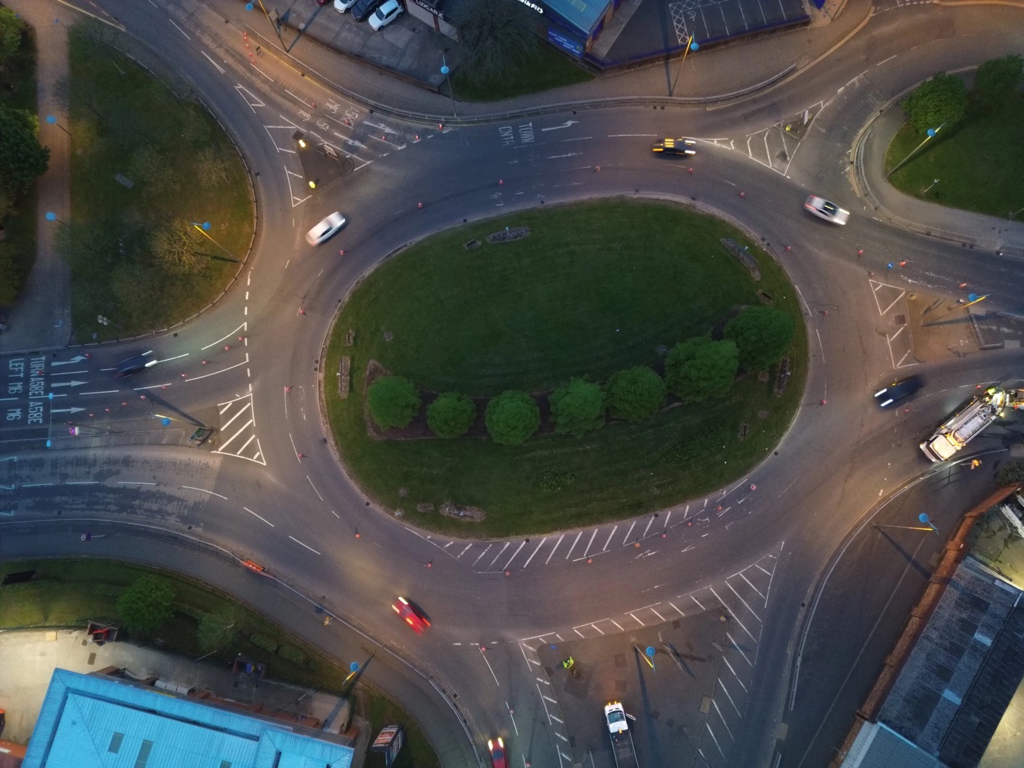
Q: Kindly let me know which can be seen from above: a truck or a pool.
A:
truck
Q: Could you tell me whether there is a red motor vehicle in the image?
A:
Yes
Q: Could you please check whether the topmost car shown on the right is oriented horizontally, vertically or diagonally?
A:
horizontally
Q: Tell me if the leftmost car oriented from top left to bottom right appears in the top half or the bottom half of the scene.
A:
bottom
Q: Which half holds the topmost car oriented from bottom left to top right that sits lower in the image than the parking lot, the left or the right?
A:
left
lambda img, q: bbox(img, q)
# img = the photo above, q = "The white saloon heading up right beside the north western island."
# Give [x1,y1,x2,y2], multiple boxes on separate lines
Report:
[307,213,347,246]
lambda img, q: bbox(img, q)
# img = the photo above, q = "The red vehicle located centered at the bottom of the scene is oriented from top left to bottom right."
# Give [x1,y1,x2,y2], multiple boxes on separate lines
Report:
[393,596,430,636]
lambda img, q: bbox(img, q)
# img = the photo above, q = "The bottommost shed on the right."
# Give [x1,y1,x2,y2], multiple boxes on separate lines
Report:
[814,705,940,768]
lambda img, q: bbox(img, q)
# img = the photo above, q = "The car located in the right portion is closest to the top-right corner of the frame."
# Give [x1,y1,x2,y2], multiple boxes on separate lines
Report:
[805,197,848,225]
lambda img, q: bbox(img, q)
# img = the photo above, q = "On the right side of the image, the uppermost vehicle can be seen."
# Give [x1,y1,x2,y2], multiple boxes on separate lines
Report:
[654,139,694,159]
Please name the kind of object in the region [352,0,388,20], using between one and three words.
car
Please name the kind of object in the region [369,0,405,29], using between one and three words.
car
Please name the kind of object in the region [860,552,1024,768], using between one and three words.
building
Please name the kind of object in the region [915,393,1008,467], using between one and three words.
truck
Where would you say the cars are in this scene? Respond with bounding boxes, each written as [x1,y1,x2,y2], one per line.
[115,352,156,377]
[369,0,405,29]
[335,0,360,12]
[307,213,347,246]
[352,0,388,20]
[876,377,922,404]
[805,197,848,225]
[315,0,333,7]
[654,139,694,159]
[393,596,430,636]
[486,736,508,768]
